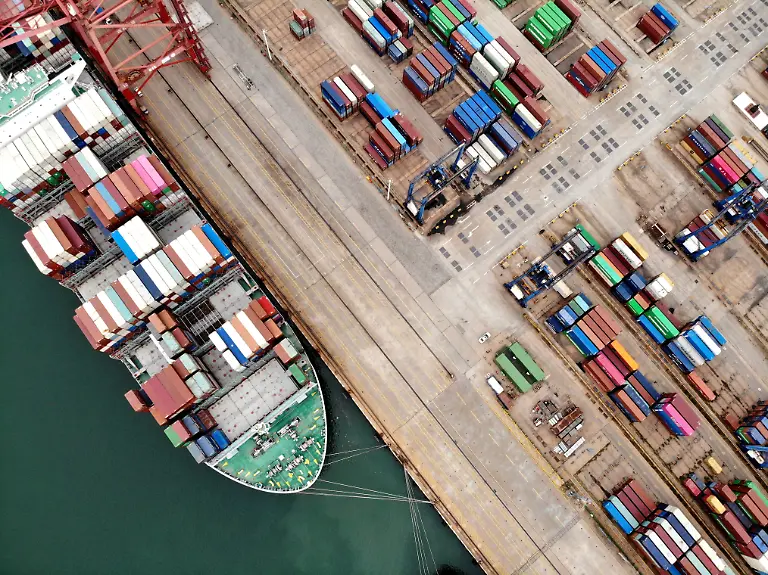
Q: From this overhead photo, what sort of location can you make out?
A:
port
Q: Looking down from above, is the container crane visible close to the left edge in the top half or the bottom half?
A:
top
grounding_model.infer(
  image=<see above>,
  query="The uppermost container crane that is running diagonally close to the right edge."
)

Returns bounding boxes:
[674,183,768,264]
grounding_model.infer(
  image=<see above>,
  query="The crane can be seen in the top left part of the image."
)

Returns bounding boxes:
[0,0,212,125]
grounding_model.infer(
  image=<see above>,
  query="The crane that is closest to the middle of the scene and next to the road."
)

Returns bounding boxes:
[403,141,479,221]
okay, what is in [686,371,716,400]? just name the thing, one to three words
shipping container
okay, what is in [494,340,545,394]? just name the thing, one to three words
shed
